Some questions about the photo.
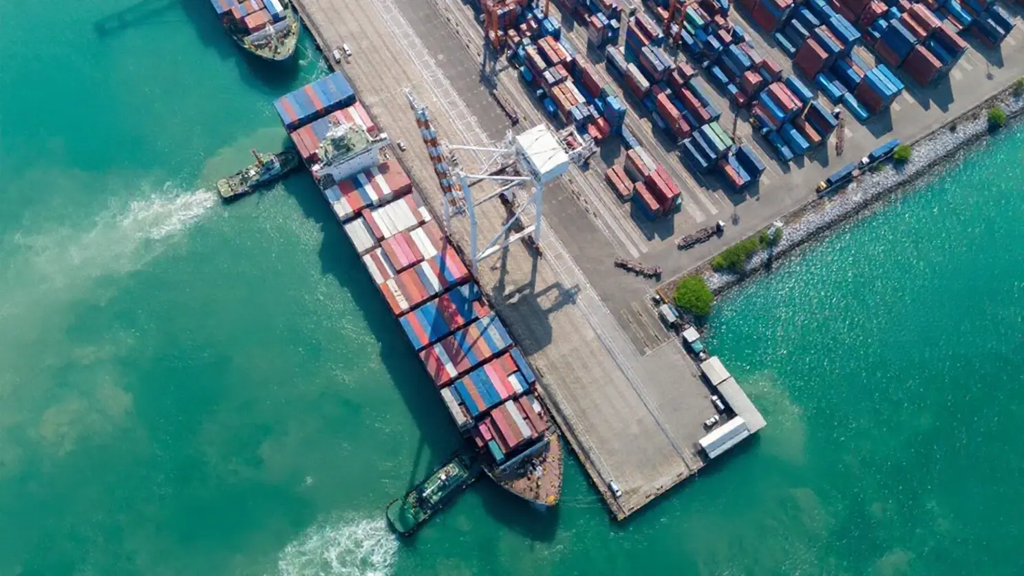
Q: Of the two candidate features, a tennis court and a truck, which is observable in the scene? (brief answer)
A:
truck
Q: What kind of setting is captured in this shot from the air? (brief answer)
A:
port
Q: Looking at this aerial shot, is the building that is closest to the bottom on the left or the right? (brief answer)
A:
right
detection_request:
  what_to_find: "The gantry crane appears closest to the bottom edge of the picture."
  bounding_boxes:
[406,92,601,281]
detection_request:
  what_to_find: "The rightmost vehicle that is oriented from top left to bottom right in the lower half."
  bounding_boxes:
[708,393,727,414]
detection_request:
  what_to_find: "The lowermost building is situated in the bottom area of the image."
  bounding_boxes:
[695,414,751,463]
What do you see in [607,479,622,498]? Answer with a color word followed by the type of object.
white vehicle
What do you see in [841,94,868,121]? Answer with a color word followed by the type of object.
blue shipping container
